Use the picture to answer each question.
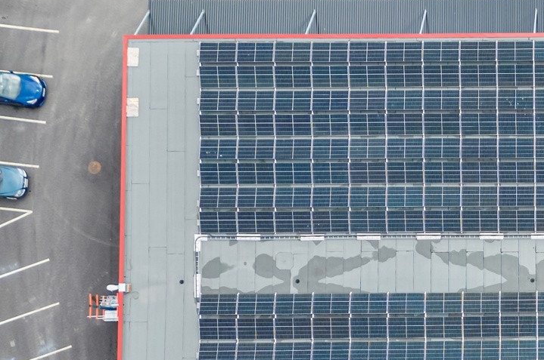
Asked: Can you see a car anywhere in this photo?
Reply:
Yes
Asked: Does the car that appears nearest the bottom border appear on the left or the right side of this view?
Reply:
left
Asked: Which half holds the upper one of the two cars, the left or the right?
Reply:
left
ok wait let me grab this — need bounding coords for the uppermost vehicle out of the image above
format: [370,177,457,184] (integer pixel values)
[0,65,51,109]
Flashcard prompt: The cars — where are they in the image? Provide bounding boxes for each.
[0,164,32,201]
[0,65,51,109]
